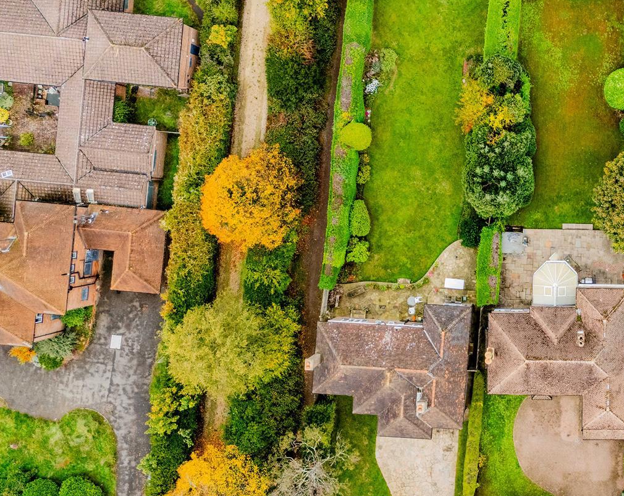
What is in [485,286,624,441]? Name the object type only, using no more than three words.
house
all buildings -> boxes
[0,0,198,214]
[304,301,472,439]
[485,286,624,441]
